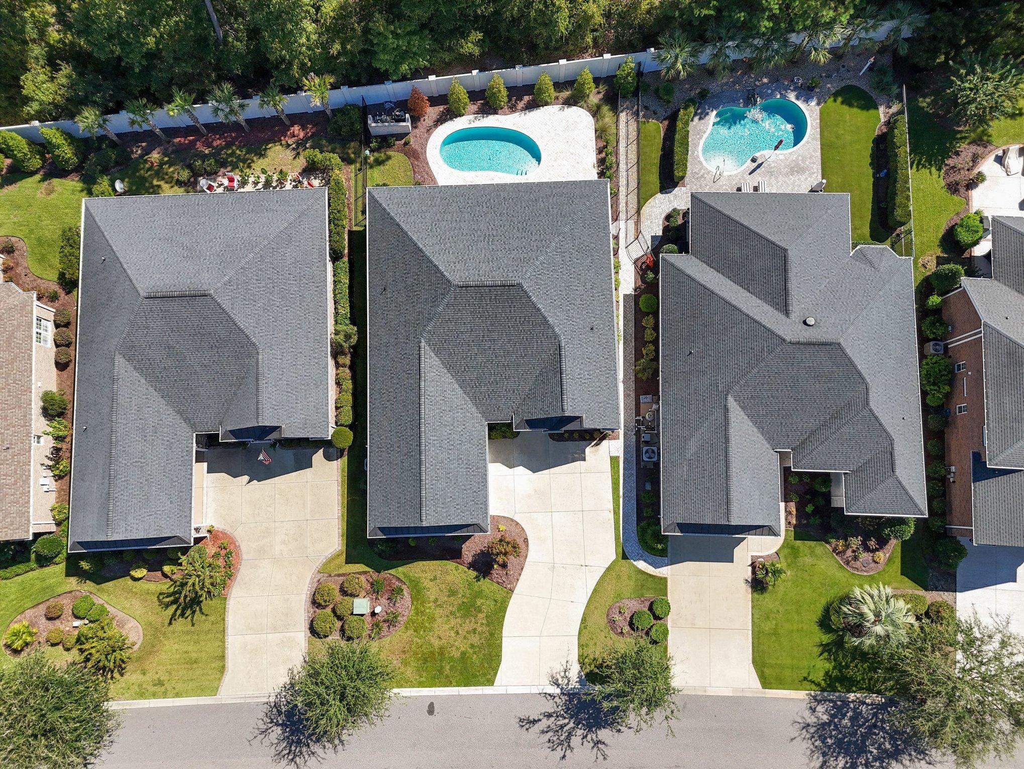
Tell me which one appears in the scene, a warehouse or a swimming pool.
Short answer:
swimming pool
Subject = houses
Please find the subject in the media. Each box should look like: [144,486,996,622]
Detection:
[936,214,1024,550]
[0,281,57,540]
[658,191,929,538]
[66,187,336,554]
[365,178,623,540]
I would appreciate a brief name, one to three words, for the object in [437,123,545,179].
swimming pool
